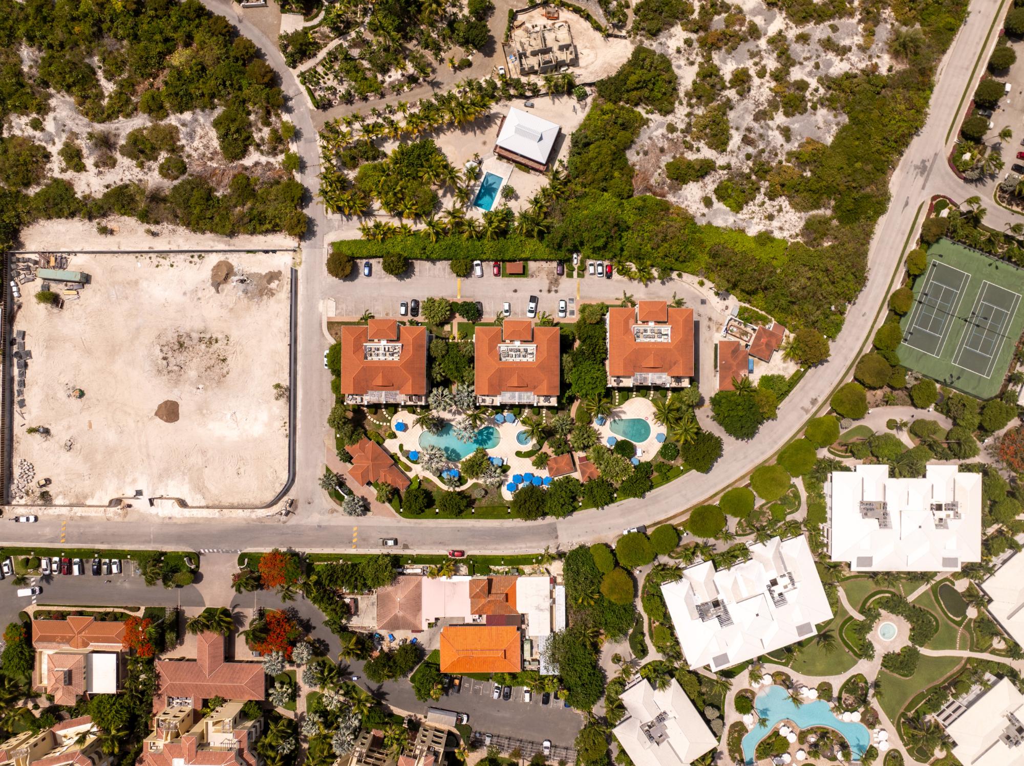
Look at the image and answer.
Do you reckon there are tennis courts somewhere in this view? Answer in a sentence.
Yes, the image includes a tennis court.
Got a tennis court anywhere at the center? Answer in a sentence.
No, the scene shows no tennis court at the center.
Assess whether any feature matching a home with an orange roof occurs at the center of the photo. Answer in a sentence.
Yes, I can see a home with an orange roof at the center of the photo.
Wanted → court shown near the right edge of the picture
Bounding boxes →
[902,260,1021,378]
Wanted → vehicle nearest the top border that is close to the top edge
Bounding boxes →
[545,4,558,18]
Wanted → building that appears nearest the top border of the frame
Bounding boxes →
[508,19,579,74]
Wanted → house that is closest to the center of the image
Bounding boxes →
[475,320,560,406]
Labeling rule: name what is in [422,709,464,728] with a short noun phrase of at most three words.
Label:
vehicle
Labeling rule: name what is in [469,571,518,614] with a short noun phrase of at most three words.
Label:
building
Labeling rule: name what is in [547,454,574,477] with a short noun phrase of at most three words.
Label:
shed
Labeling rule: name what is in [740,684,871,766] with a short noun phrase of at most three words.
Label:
swimming pool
